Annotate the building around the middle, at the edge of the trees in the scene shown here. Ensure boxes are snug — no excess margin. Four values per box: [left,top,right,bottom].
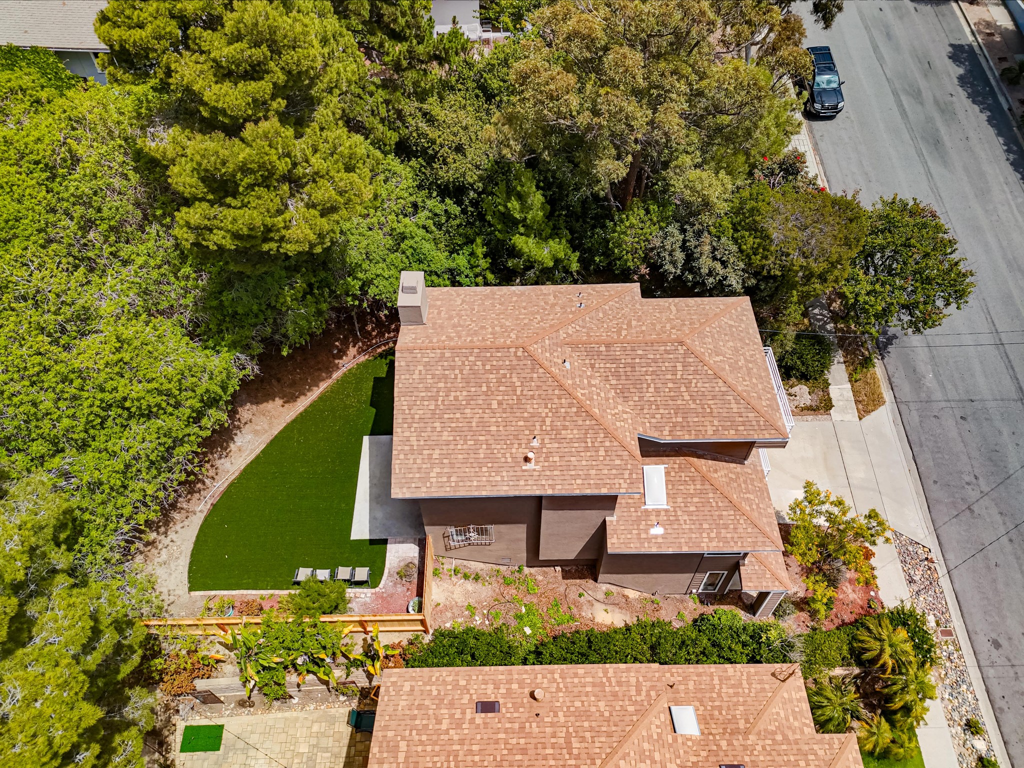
[390,274,795,616]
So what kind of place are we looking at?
residential area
